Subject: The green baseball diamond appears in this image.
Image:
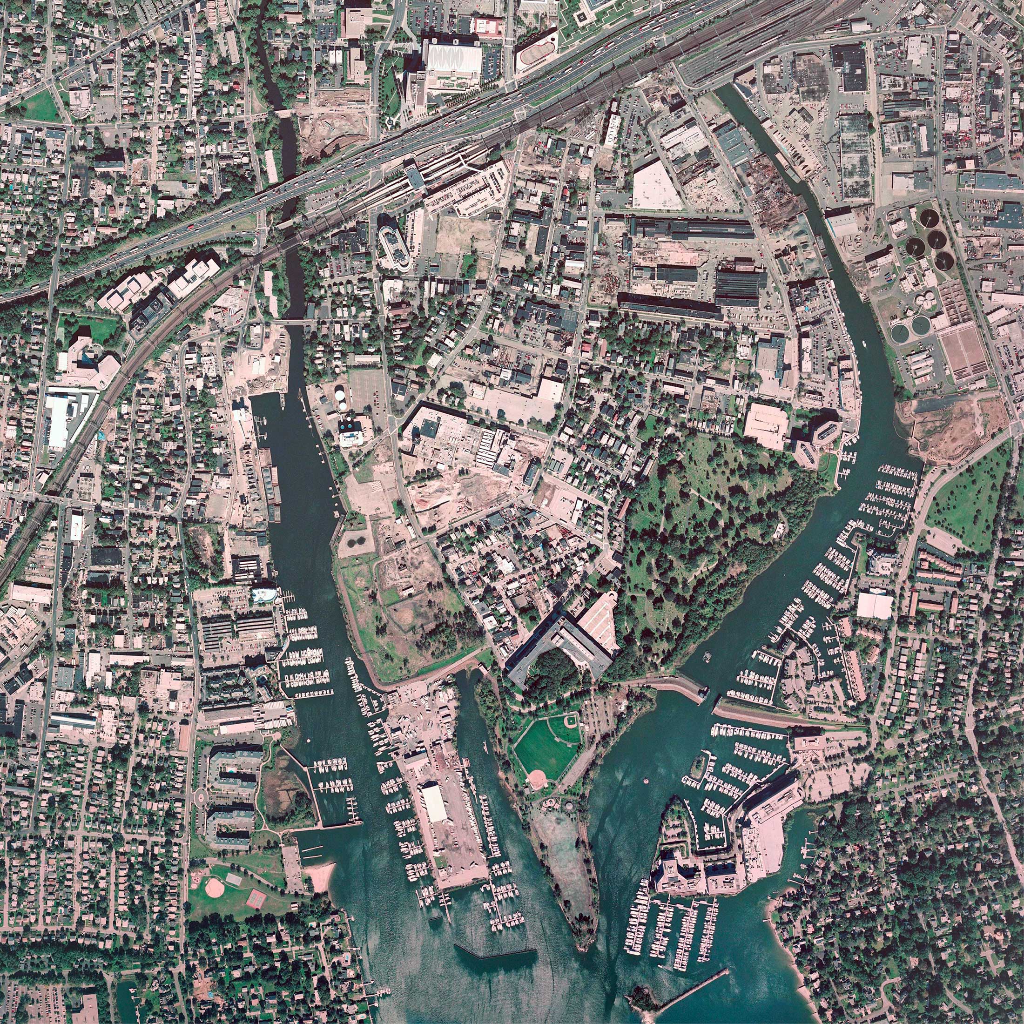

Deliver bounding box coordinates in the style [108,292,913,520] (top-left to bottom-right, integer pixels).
[512,713,583,790]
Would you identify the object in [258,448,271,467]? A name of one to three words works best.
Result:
ship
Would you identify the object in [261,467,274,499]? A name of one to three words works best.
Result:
ship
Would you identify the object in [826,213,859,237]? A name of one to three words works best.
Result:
shed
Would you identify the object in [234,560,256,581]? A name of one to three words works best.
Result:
building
